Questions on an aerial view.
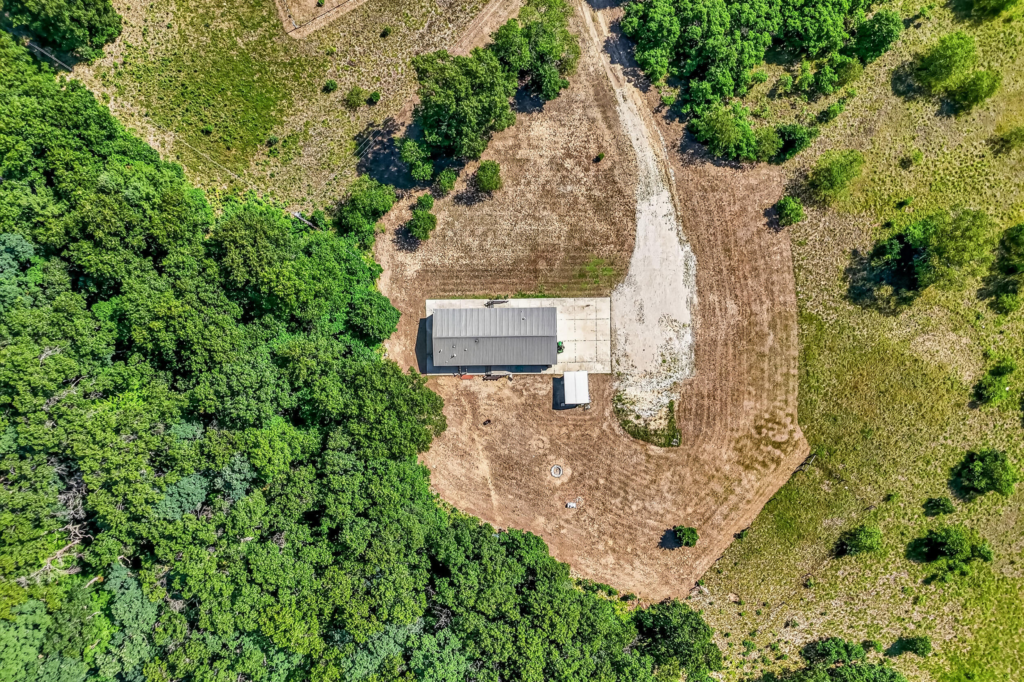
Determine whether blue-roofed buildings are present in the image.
No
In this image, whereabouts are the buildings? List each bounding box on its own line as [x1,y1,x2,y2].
[564,369,589,404]
[432,307,557,367]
